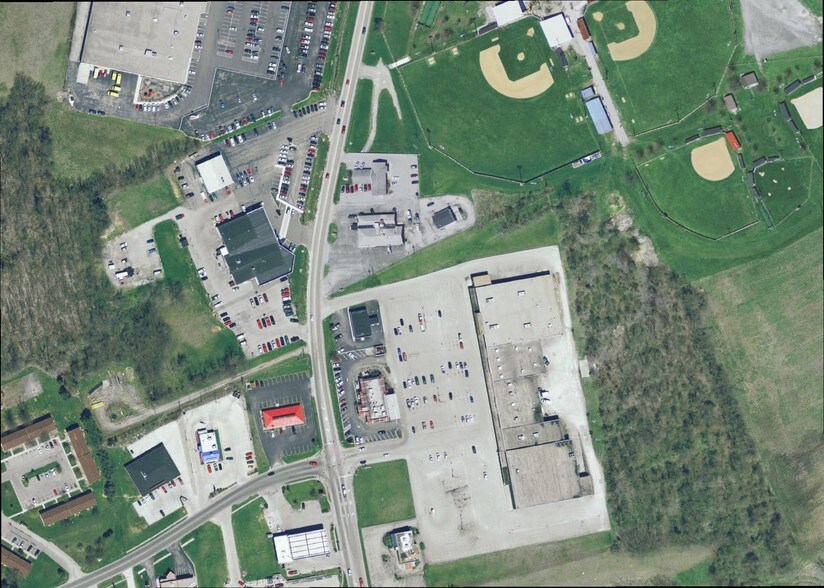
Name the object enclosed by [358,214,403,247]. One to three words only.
building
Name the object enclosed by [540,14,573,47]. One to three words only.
building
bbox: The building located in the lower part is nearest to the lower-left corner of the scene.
[0,546,31,578]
